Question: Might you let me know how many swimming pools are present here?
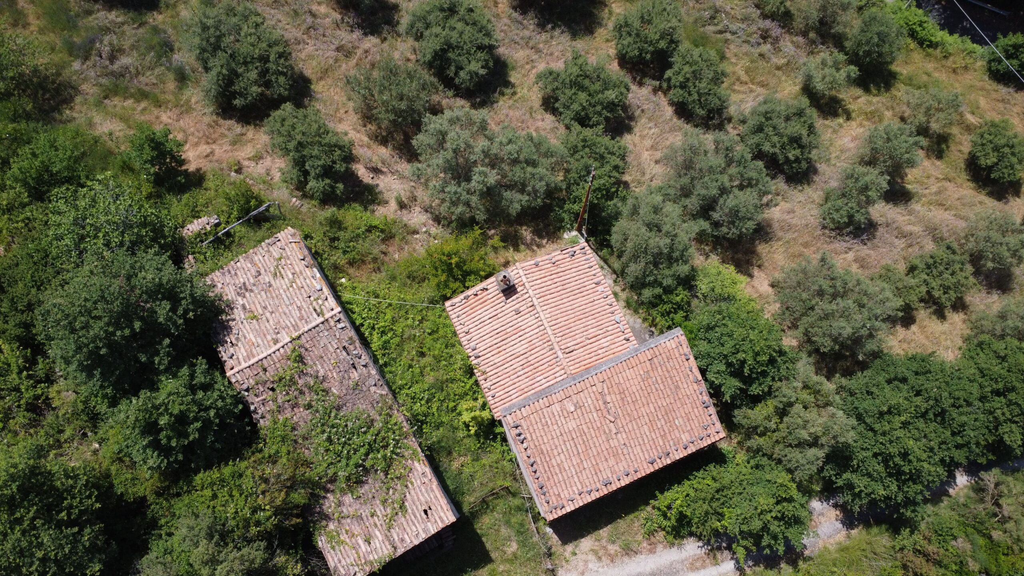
zero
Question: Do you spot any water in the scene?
No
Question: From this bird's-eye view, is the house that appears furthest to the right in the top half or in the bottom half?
bottom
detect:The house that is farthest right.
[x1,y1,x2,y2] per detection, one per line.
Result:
[442,240,728,525]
